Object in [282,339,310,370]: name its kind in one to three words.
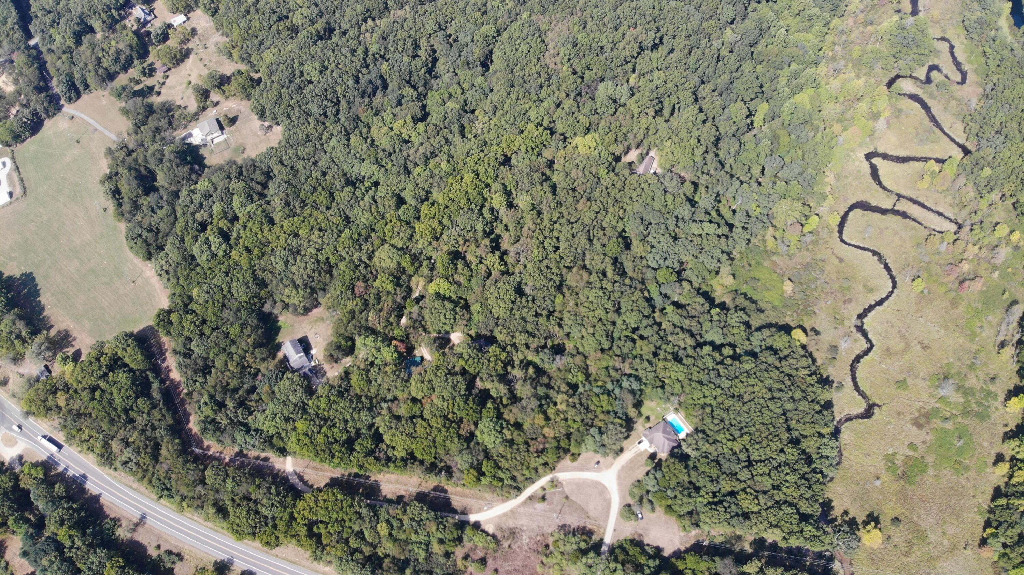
house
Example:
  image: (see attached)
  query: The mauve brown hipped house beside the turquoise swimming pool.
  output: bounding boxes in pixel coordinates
[643,420,678,453]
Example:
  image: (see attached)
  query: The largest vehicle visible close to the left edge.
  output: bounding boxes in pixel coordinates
[38,436,62,453]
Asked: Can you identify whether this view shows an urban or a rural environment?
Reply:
rural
